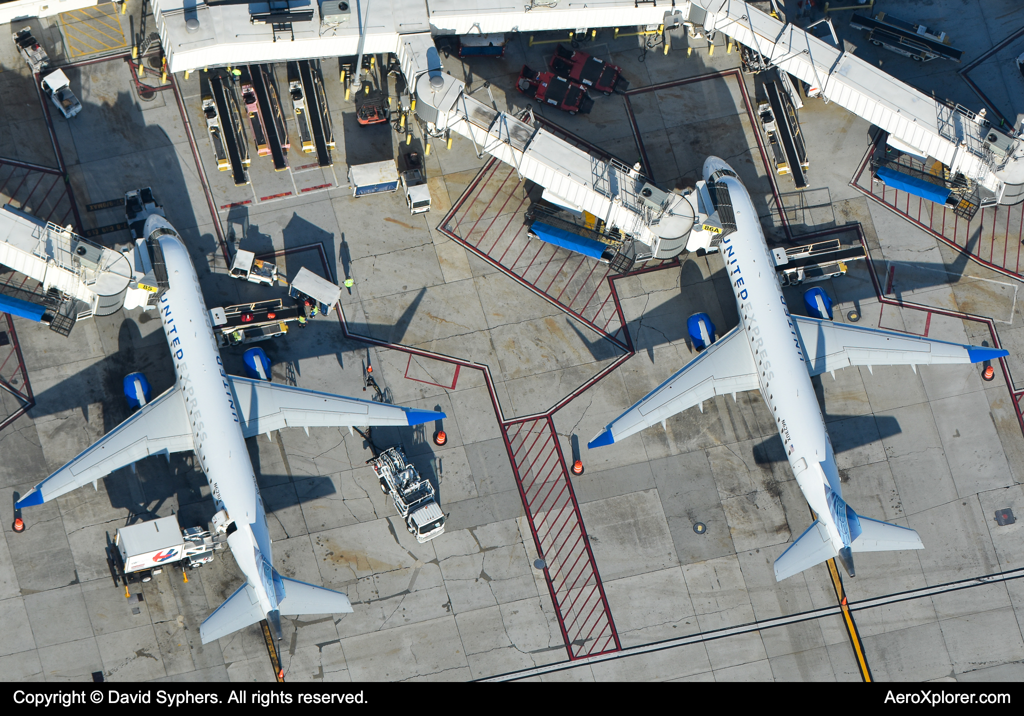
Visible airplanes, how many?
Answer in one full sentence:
In total, there are 2 airplanes in the scene.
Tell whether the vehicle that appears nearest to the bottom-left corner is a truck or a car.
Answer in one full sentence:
Specifically, the vehicle that appears nearest to the bottom-left corner is a truck.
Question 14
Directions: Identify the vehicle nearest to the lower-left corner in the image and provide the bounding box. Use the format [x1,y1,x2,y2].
[99,515,223,603]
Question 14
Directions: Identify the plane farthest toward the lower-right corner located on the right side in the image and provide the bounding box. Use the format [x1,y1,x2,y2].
[587,158,1009,582]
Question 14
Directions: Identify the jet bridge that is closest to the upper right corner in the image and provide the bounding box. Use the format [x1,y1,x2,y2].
[695,0,1024,239]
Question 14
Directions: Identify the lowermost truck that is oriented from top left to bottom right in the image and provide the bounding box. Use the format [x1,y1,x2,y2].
[366,445,451,543]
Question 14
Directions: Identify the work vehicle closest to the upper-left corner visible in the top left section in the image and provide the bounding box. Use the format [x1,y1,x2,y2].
[9,26,55,76]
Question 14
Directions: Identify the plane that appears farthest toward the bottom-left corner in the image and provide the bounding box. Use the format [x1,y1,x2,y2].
[14,215,446,645]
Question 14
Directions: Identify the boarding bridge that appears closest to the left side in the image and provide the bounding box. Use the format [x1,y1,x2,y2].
[0,204,173,356]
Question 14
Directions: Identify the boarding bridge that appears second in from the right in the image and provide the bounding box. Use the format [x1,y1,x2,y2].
[415,67,736,294]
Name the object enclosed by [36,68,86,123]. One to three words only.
work vehicle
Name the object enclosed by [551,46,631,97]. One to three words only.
work vehicle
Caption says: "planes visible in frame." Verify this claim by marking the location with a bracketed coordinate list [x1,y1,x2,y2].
[587,158,1009,582]
[14,215,446,645]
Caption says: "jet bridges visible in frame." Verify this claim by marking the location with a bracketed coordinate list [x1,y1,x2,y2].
[0,204,173,356]
[415,67,736,294]
[695,0,1024,239]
